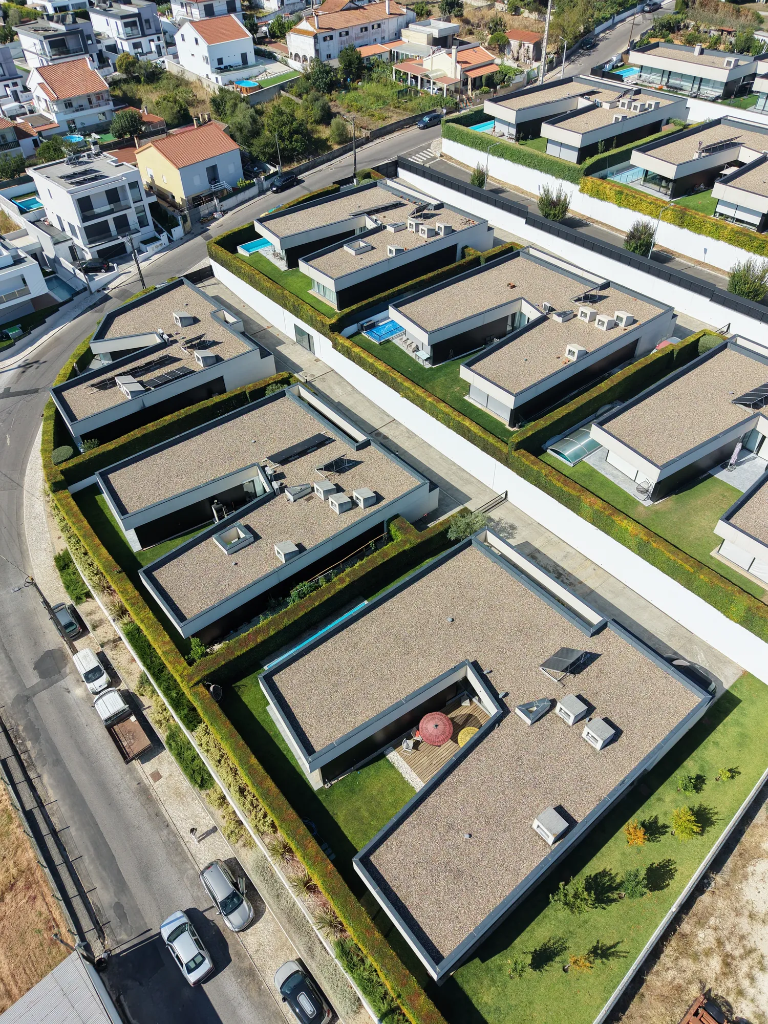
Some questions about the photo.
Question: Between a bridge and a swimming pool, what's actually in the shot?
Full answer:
It is a swimming pool that can be seen here.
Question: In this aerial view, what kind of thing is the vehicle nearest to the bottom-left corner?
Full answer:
It looks like the vehicle nearest to the bottom-left corner is an automobile.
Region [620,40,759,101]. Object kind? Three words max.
house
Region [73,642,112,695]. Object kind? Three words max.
van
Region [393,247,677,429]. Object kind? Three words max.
house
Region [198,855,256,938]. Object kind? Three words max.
car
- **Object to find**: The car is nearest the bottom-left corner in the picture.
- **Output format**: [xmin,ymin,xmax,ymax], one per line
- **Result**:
[159,907,217,991]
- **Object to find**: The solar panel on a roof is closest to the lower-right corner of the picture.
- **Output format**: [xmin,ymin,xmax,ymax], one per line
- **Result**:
[543,645,586,680]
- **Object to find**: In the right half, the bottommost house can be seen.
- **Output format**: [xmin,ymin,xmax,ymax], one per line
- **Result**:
[260,534,722,987]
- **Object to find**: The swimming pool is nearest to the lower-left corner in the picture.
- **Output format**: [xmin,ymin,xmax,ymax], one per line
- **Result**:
[264,603,374,673]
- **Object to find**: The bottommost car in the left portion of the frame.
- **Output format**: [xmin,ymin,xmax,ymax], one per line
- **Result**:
[275,957,339,1024]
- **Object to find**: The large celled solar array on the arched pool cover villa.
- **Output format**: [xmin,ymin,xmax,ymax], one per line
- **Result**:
[734,383,768,412]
